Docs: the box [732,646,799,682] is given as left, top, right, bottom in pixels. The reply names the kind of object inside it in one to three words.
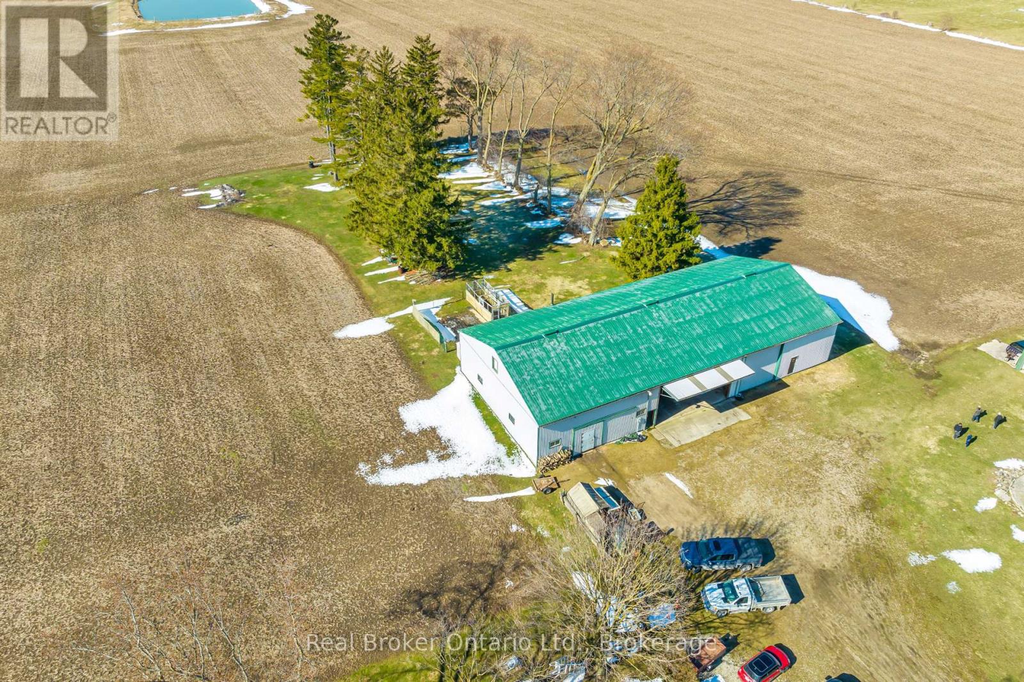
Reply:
car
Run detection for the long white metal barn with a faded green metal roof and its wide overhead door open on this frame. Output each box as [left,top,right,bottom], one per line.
[457,254,845,470]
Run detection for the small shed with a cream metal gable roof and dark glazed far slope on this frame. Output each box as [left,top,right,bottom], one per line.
[558,481,628,560]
